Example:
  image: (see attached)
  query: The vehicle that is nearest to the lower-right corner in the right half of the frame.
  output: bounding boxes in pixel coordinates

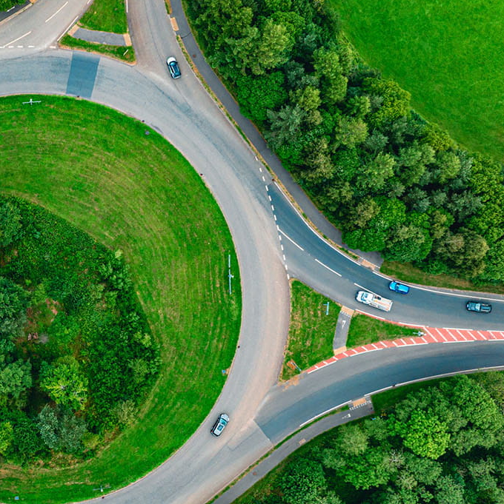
[465,301,492,313]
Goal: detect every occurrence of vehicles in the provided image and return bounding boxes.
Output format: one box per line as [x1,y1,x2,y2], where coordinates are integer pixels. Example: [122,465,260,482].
[166,57,181,80]
[211,412,229,438]
[354,290,393,312]
[465,301,492,313]
[387,281,410,295]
